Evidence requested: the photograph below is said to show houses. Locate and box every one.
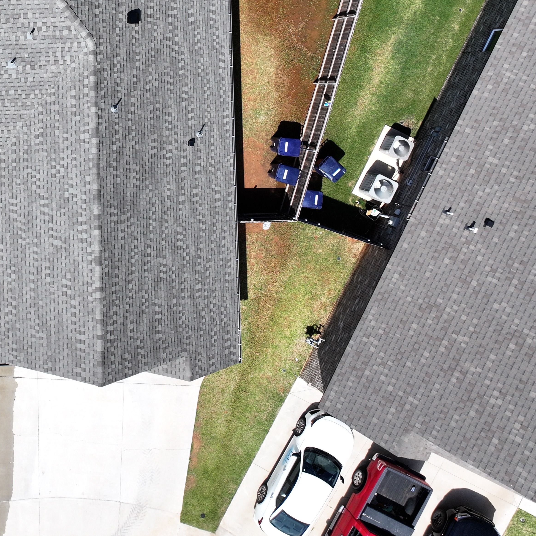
[299,0,536,508]
[0,0,242,381]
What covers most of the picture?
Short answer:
buildings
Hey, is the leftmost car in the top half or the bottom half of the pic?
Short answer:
bottom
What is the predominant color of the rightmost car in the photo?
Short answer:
black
